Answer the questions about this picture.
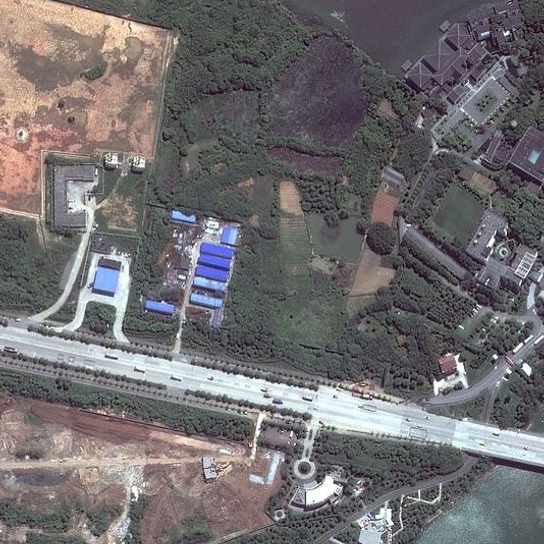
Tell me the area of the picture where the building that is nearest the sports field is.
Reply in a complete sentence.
The building that is nearest the sports field is in the right part of the image.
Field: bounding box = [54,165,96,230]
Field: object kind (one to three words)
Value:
building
